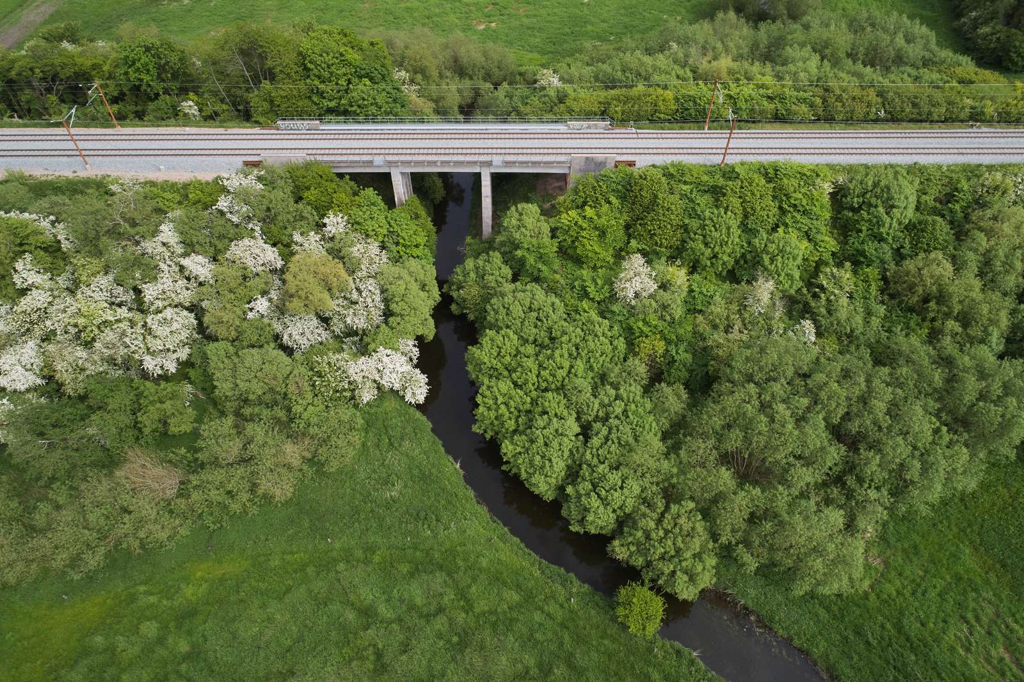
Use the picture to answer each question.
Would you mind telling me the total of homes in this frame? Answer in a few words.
0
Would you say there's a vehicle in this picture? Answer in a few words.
No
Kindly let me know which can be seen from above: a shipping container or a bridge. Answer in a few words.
bridge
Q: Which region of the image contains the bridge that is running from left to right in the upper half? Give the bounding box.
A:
[253,115,619,235]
